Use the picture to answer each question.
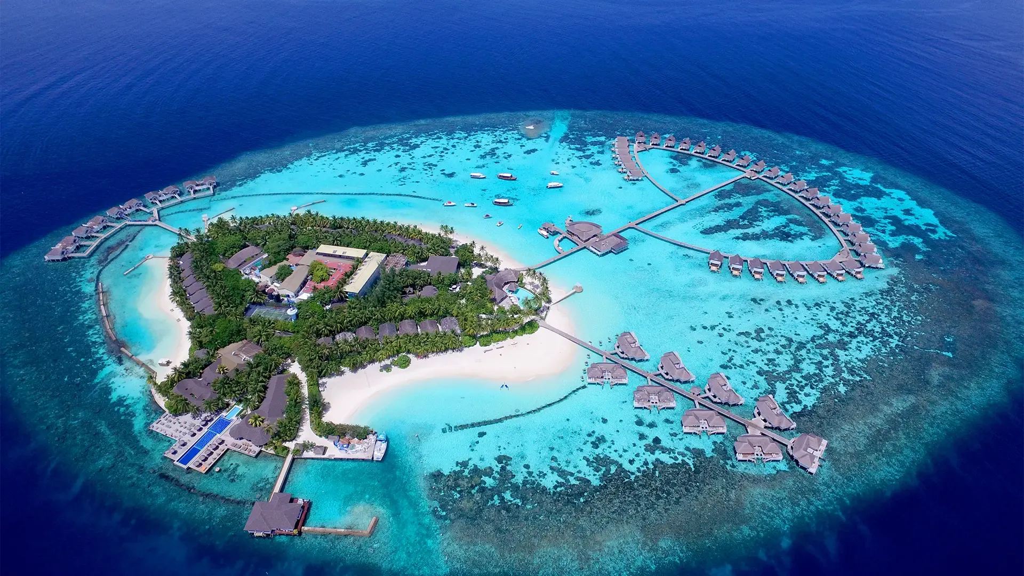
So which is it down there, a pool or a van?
pool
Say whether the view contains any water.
Yes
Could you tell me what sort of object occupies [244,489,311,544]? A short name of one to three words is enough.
building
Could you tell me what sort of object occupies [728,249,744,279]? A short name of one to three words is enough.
house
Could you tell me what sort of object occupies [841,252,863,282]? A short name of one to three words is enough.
house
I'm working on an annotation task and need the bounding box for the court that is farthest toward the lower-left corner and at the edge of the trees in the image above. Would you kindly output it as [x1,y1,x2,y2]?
[246,304,291,322]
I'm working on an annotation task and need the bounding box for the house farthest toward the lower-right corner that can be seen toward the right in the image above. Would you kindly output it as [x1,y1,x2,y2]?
[784,434,830,485]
